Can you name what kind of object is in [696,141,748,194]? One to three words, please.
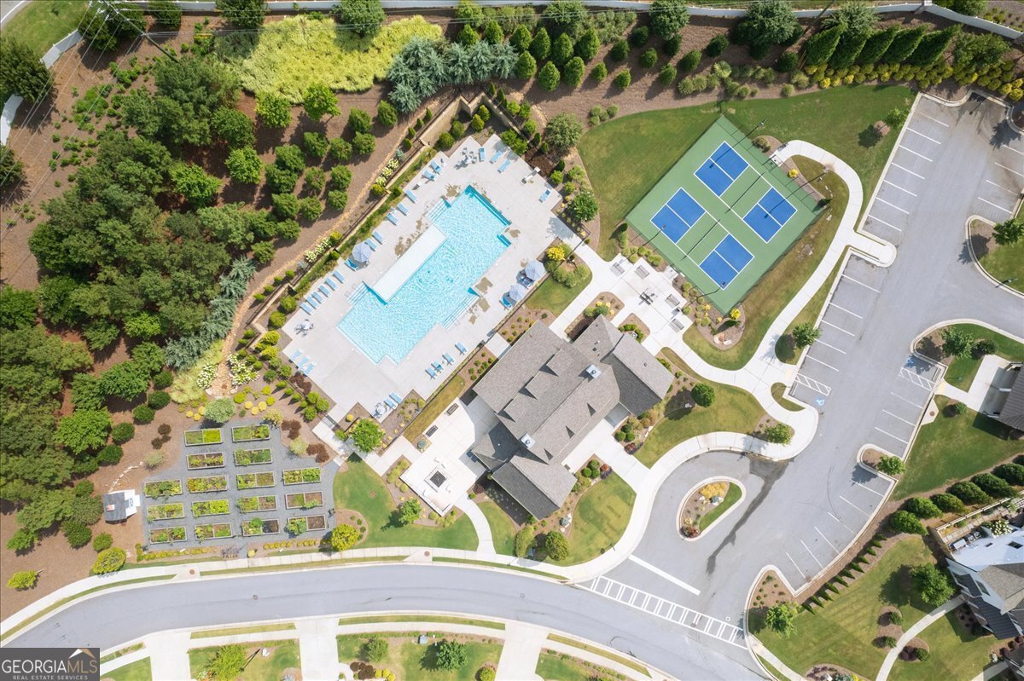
sports court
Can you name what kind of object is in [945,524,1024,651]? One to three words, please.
house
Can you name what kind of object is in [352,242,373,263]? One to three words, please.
umbrella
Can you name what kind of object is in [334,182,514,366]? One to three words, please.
swimming pool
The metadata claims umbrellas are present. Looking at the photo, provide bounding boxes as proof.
[525,260,545,280]
[508,281,529,302]
[352,242,373,263]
